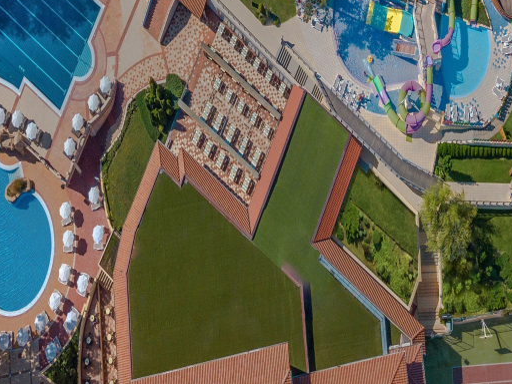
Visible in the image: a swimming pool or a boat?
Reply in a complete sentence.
Of the two, only a swimming pool appears.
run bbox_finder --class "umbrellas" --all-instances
[94,225,106,241]
[72,114,86,132]
[65,312,79,328]
[27,123,41,140]
[64,231,75,247]
[100,77,113,95]
[18,327,32,344]
[78,275,91,291]
[0,107,10,125]
[60,266,71,282]
[90,188,103,204]
[35,314,50,330]
[62,202,73,218]
[65,139,78,155]
[51,293,64,310]
[0,331,14,349]
[13,110,27,128]
[46,340,61,357]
